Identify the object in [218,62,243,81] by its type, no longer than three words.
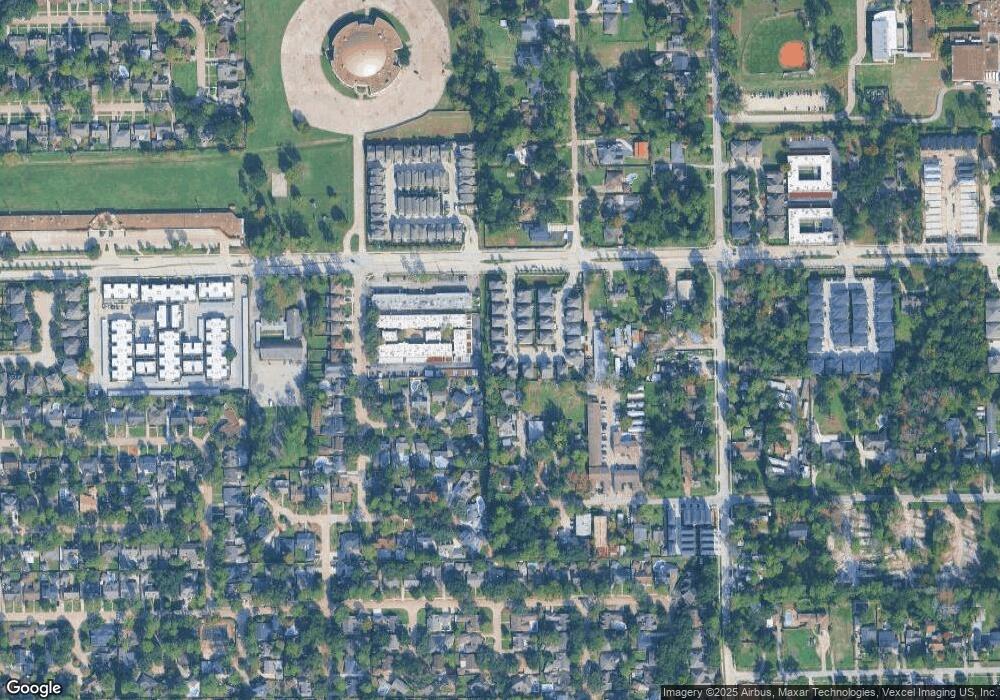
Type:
house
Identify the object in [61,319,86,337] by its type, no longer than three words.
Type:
house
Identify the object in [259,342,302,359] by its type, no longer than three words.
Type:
building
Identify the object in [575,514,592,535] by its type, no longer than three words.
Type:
building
